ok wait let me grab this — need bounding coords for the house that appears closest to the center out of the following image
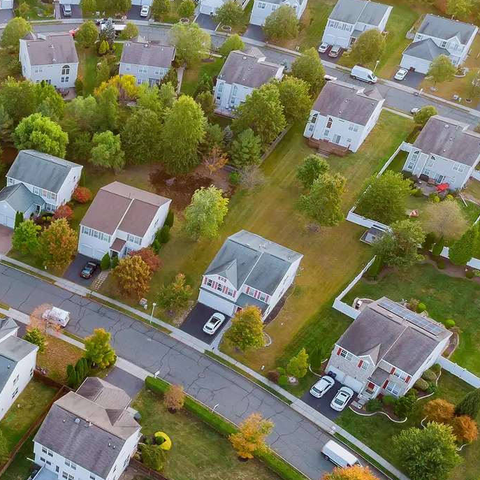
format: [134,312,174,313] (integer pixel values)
[202,230,304,320]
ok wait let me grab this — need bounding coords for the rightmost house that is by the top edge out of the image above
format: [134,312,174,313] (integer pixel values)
[398,15,480,69]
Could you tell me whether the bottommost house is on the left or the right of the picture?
left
